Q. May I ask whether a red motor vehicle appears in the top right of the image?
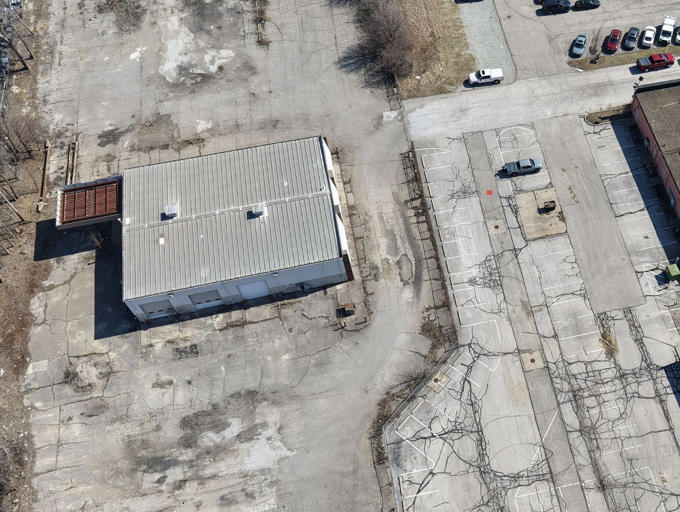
Yes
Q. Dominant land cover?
paved ground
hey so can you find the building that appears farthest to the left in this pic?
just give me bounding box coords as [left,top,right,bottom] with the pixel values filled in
[122,131,355,321]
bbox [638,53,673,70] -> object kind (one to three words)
vehicle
